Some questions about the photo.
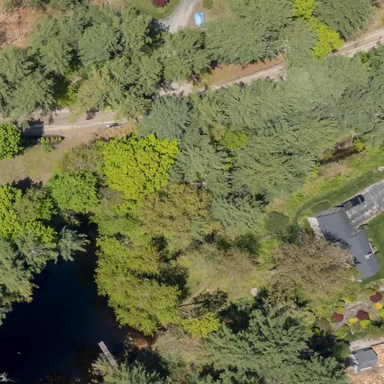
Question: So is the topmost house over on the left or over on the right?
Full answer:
You can find the topmost house on the right side of the picture.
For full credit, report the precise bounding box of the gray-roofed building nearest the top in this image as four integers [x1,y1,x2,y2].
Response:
[312,205,379,280]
